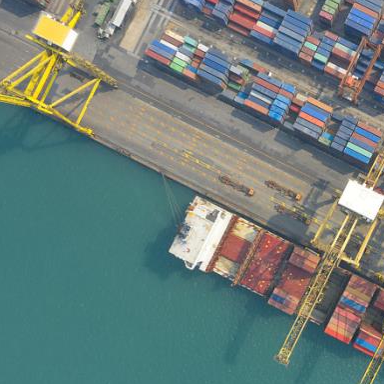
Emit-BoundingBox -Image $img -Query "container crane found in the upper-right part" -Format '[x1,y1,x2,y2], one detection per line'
[333,36,384,113]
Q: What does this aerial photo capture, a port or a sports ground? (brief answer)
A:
port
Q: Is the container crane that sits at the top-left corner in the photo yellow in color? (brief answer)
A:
Yes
